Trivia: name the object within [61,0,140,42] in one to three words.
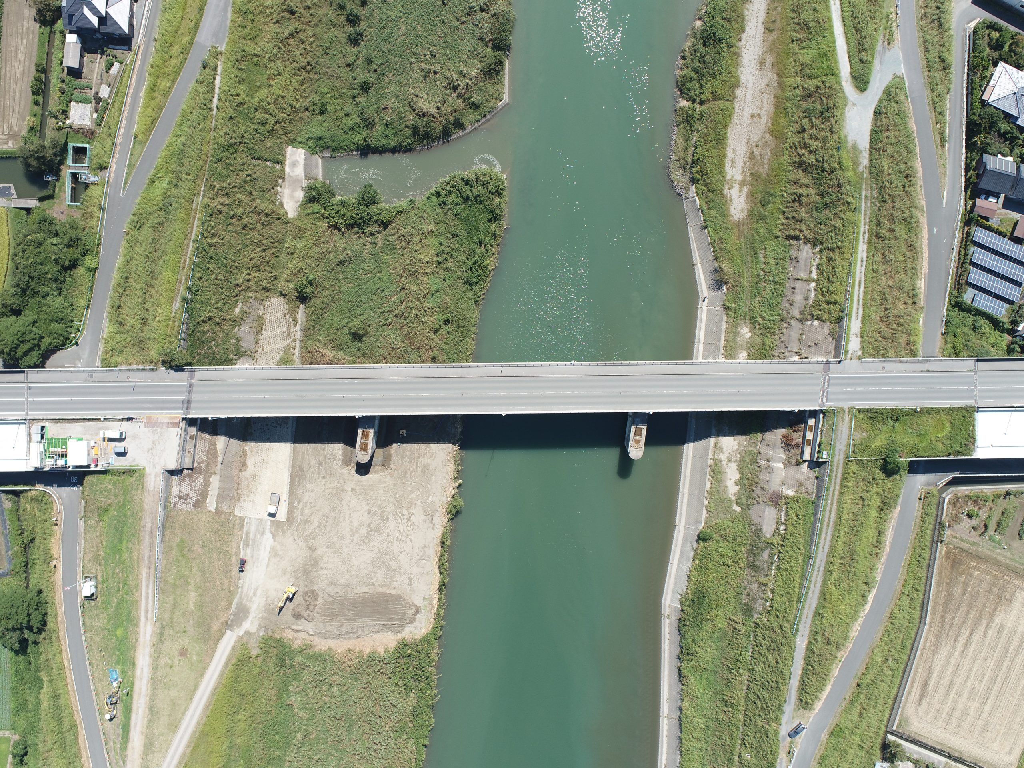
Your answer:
house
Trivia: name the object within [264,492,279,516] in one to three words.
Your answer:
vehicle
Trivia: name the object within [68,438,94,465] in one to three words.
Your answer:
shed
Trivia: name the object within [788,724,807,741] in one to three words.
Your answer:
car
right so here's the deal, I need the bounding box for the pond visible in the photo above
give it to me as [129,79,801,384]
[0,156,59,200]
